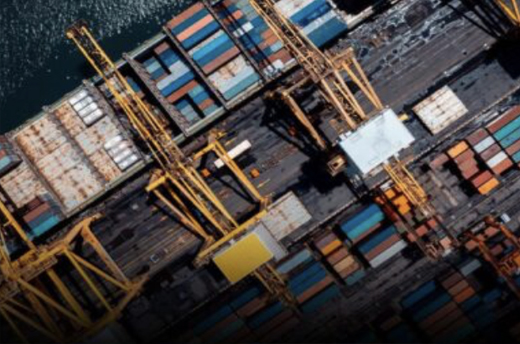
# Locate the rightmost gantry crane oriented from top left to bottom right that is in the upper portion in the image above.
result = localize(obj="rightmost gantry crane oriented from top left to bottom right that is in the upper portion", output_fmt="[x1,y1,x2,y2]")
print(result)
[249,0,435,217]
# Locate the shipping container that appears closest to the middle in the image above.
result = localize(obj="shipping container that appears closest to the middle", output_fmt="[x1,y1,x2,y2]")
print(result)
[219,137,256,166]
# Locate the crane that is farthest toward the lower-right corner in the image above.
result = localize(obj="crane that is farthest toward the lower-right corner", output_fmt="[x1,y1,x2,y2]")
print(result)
[448,206,520,307]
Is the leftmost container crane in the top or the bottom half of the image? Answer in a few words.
bottom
